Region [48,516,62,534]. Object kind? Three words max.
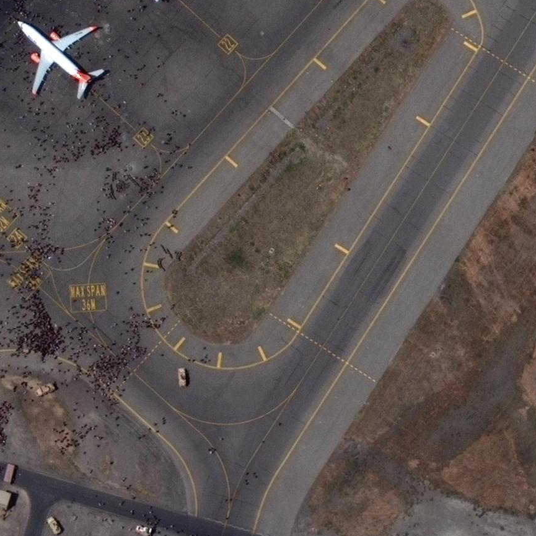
vehicle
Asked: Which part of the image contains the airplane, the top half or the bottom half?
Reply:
top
